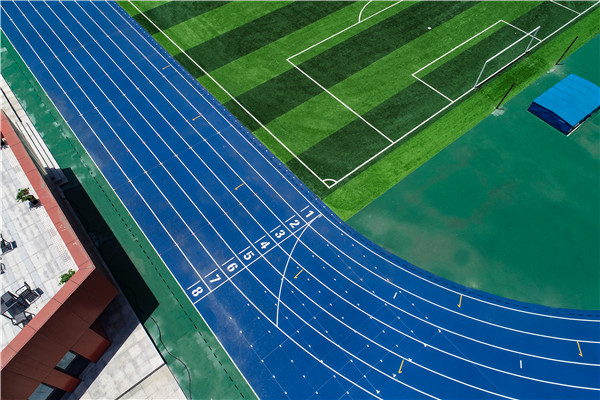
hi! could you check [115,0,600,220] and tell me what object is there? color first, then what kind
green sports field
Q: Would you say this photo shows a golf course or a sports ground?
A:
sports ground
